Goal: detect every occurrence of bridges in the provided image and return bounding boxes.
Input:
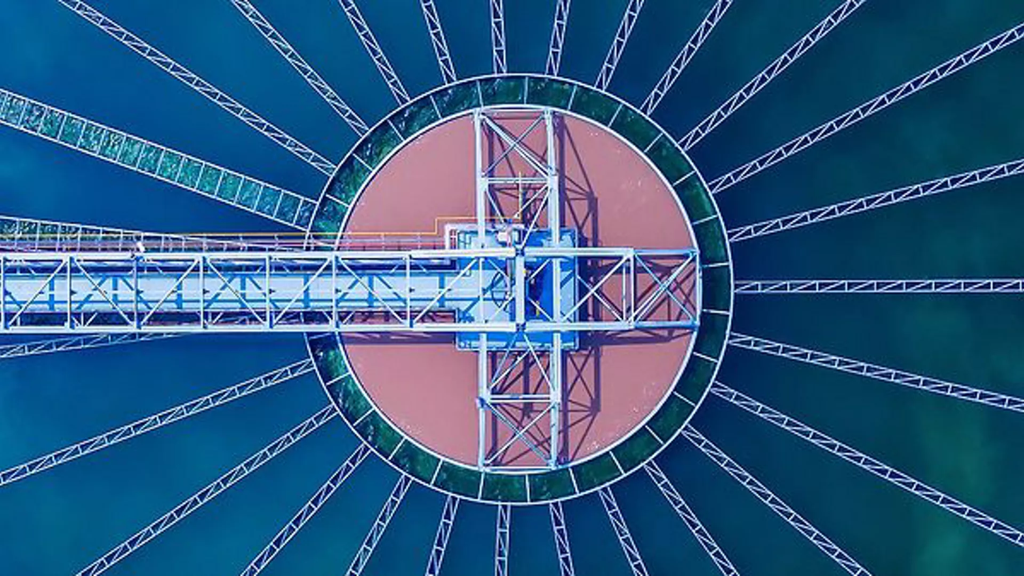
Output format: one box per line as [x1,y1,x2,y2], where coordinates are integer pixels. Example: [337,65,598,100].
[0,232,701,331]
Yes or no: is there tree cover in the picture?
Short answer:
No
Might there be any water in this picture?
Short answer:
Yes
